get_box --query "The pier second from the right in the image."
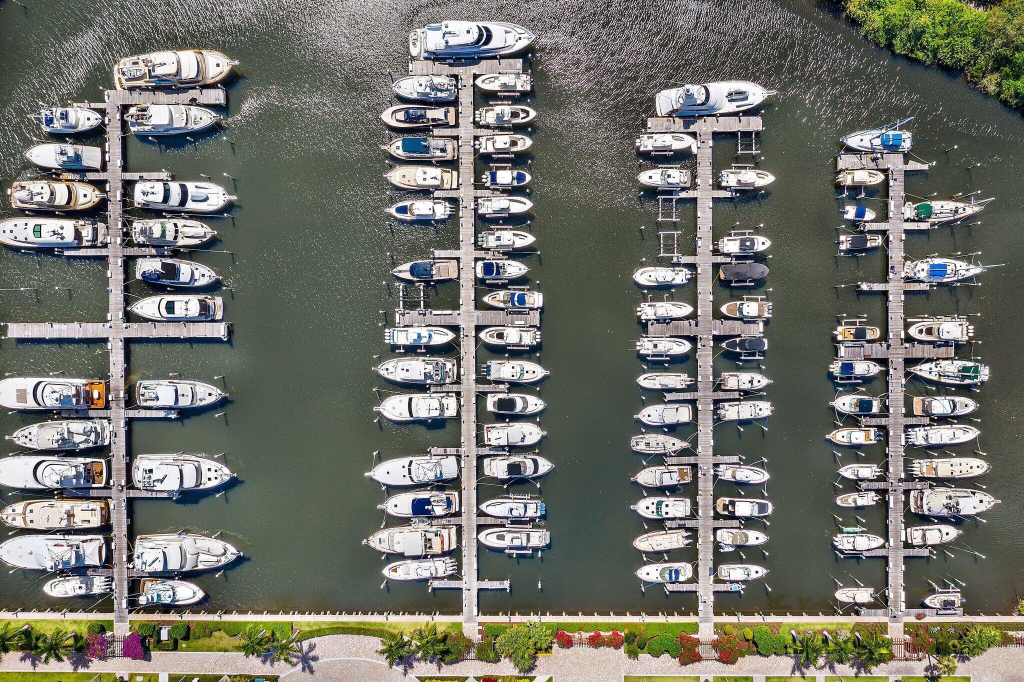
[647,117,763,623]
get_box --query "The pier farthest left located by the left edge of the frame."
[7,90,229,623]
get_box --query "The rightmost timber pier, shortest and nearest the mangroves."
[836,154,963,623]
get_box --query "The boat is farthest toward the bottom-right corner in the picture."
[920,591,969,609]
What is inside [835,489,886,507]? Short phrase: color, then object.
white boat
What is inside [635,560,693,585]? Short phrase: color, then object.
white boat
